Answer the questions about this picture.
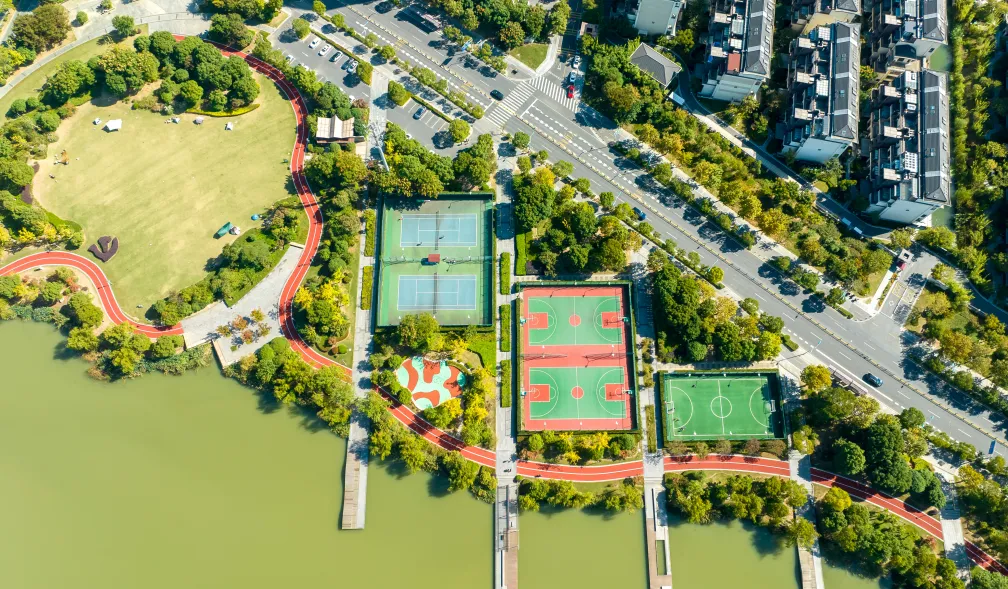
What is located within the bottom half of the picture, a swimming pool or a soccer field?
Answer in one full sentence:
Visible within the bottom half of the picture is a soccer field.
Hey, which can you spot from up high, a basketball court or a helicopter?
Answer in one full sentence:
This aerial view contains a basketball court.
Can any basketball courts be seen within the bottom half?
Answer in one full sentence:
Yes, I can see a basketball court within the bottom half.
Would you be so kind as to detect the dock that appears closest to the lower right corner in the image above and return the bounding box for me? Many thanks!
[797,546,824,589]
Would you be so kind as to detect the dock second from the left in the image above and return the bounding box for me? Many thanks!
[494,488,518,589]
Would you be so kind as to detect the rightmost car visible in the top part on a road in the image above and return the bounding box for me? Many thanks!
[632,206,647,219]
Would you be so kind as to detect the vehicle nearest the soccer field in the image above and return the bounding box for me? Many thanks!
[865,371,883,386]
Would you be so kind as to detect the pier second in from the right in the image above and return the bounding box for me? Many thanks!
[646,492,672,589]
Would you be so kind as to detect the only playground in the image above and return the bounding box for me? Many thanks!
[396,356,468,410]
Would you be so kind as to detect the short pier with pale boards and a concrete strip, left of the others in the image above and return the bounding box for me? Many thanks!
[342,441,370,529]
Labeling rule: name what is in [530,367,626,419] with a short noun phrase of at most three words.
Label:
basketball court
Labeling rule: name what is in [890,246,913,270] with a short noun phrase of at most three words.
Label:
building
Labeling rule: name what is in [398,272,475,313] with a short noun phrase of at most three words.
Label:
tennis court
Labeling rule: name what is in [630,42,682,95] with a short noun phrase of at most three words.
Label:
building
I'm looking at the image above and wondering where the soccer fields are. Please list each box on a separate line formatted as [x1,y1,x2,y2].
[662,374,780,441]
